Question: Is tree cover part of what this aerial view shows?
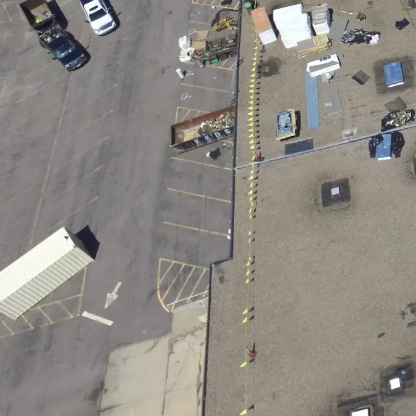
No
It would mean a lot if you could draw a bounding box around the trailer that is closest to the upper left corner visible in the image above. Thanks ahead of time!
[10,0,56,34]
